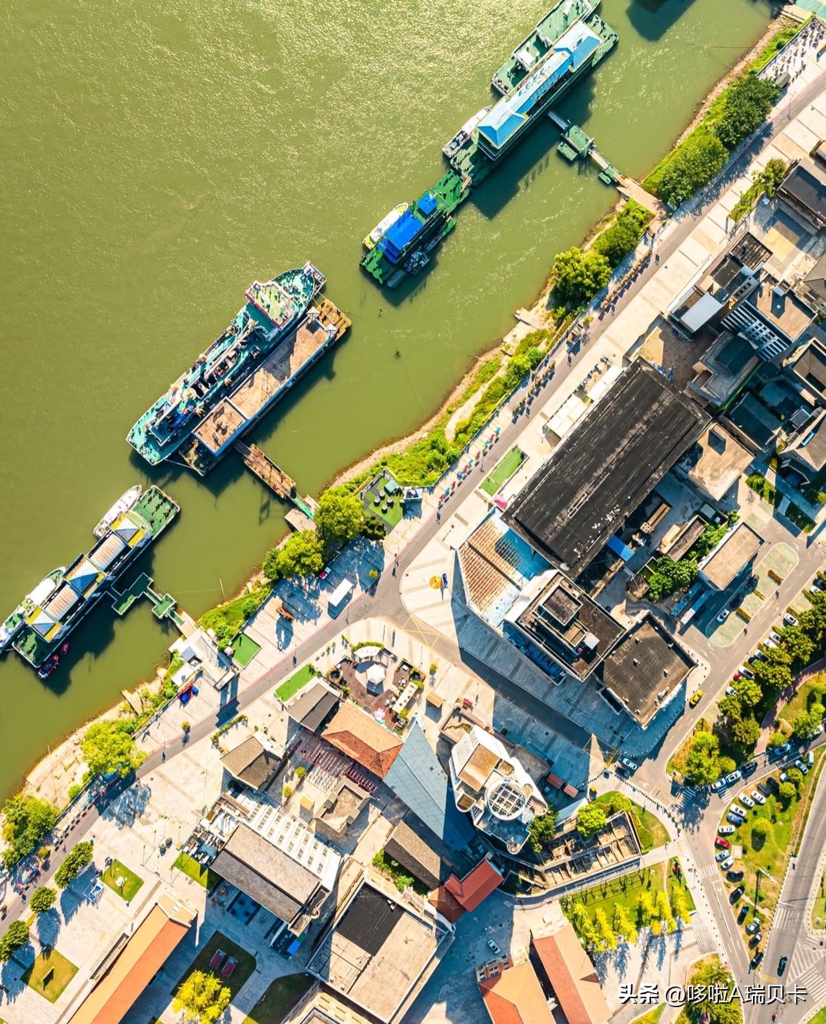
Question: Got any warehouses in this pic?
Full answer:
Yes, you can see a warehouse in this photo.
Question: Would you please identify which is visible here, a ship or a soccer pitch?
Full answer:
Visible in the photo is a ship.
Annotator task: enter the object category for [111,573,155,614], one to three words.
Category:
pier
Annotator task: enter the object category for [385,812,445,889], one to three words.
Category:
house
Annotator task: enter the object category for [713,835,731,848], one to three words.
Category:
vehicle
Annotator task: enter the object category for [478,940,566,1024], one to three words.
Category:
building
